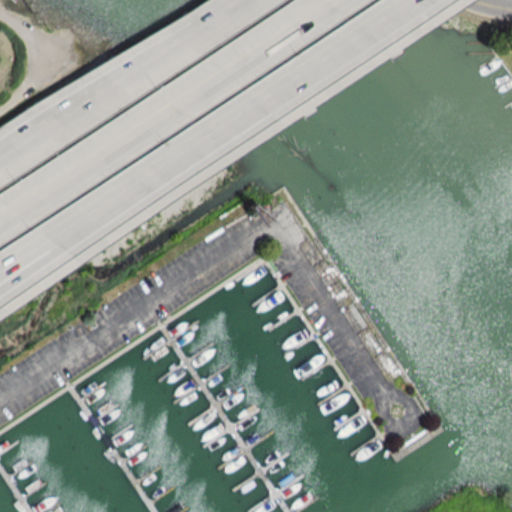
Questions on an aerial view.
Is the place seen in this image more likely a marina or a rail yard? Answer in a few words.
marina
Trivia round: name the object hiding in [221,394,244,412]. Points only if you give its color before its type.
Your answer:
white boat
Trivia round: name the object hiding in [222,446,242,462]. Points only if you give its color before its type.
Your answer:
white boat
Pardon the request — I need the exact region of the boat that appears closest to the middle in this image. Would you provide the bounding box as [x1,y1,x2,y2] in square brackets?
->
[244,265,270,286]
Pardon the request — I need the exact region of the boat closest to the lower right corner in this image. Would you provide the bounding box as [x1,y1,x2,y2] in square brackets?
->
[356,439,386,462]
